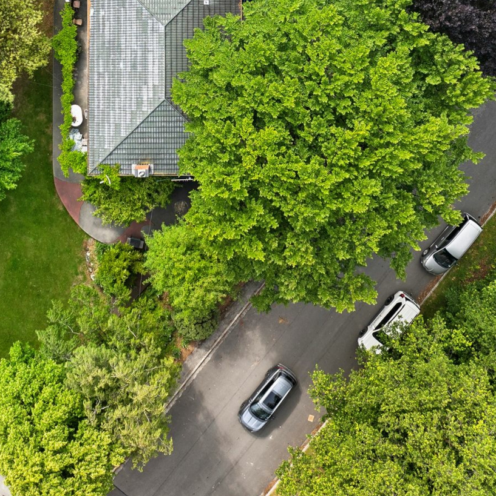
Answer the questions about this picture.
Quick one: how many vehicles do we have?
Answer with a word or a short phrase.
3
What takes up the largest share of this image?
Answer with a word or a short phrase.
trees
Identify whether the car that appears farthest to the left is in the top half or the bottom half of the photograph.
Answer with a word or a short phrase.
bottom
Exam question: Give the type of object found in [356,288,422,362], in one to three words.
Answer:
car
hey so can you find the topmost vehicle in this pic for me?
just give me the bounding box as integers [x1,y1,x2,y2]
[421,210,486,278]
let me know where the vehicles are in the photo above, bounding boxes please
[421,210,486,278]
[356,288,422,362]
[239,362,298,432]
